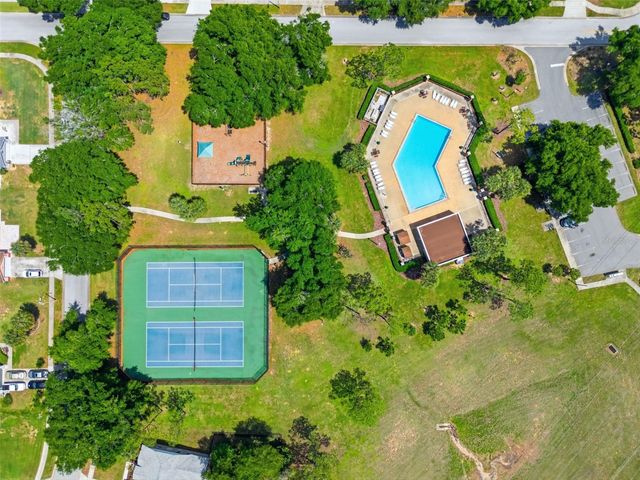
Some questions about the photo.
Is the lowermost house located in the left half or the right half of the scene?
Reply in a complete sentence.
The lowermost house is on the left side of the image.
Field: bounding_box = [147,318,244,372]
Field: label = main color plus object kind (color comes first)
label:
blue tennis court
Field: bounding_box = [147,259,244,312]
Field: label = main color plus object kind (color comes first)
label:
blue tennis court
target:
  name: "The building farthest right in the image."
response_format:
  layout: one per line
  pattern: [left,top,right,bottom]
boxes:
[417,212,471,266]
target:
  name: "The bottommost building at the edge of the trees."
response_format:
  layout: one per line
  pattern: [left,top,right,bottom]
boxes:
[132,444,208,480]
